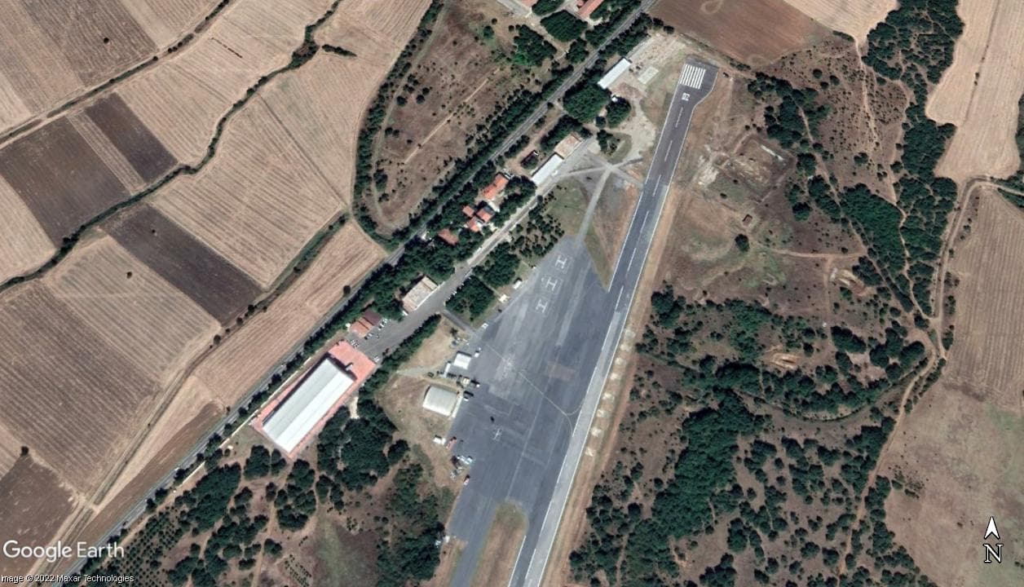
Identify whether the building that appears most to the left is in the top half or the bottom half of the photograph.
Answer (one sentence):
You can find the building that appears most to the left in the bottom half.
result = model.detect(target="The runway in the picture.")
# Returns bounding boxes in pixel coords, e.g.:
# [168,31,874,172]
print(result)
[508,56,719,587]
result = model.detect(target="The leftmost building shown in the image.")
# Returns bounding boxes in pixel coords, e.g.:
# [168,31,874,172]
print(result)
[262,356,355,453]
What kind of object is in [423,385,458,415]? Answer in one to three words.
hangar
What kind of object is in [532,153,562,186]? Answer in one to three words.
shed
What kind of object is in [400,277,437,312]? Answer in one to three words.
building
